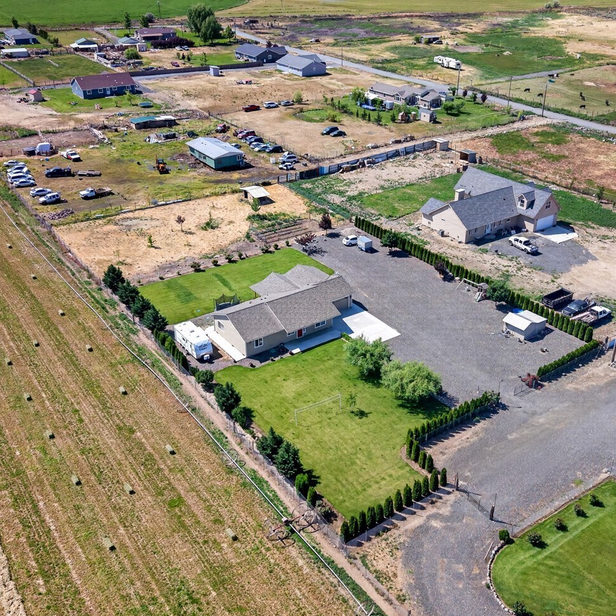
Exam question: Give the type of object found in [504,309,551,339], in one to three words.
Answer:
shed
